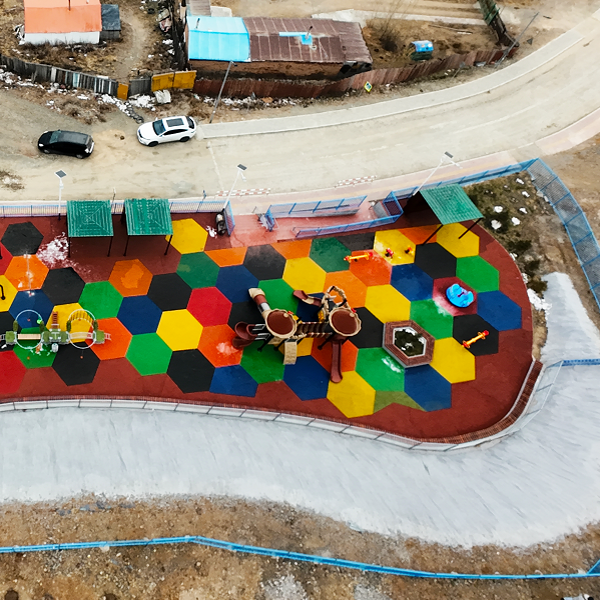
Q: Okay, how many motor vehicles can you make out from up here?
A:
2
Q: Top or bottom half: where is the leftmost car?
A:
top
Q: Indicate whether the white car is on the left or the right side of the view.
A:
left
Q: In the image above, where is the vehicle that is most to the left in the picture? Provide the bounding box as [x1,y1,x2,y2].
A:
[39,132,94,161]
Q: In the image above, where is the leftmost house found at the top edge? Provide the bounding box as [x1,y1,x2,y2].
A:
[22,0,102,46]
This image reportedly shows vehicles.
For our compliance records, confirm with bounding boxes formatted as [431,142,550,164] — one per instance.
[39,132,94,161]
[139,118,196,150]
